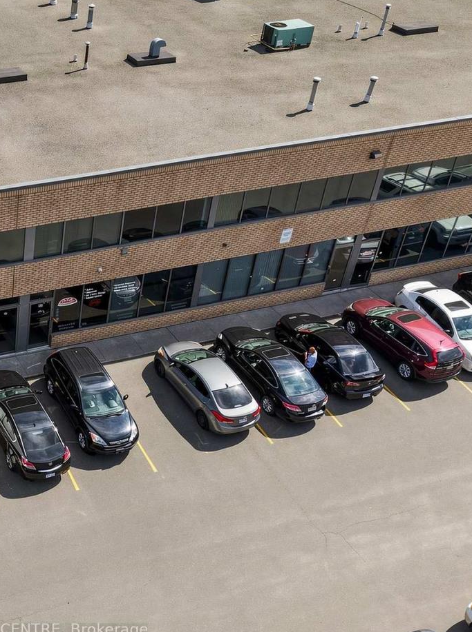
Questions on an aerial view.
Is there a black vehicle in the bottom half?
Yes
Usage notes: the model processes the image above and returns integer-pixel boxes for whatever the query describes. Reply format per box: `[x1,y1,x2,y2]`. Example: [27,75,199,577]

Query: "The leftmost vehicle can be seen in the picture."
[0,371,63,476]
